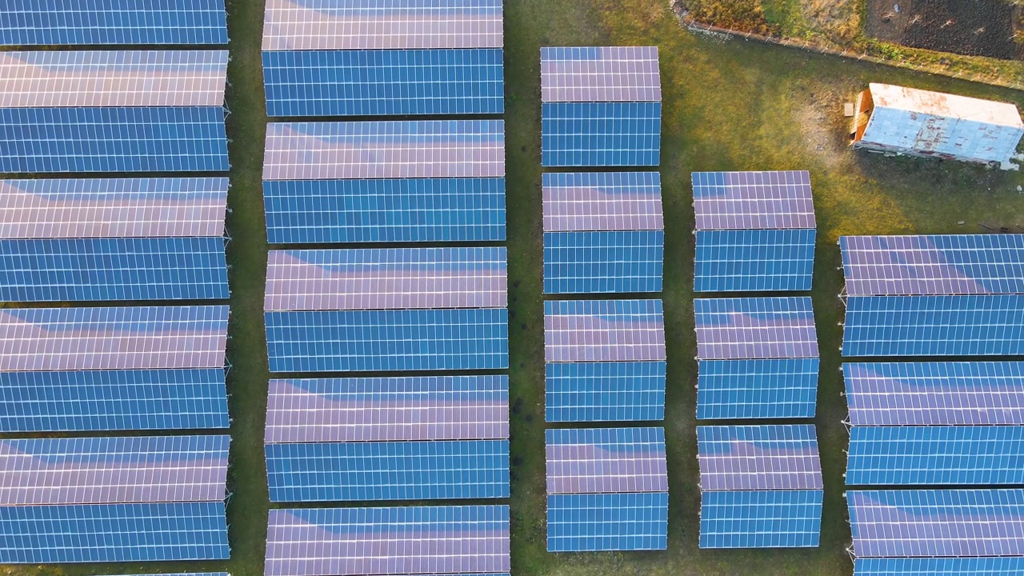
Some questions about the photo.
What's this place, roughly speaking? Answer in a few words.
solar farm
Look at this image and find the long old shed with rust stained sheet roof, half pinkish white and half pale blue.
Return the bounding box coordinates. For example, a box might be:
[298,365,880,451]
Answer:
[852,83,1024,166]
